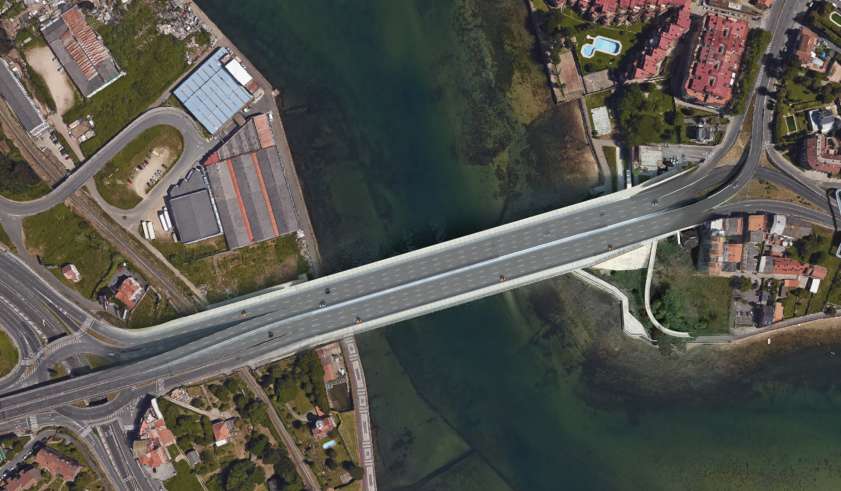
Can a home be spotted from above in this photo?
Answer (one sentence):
Yes, the frame does contain a home.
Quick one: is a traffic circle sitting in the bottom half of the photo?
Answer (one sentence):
Yes, looking in the bottom half of the photo, one can make out a traffic circle.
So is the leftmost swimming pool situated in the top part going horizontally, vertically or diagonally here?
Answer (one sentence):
The leftmost swimming pool situated in the top part is laid out horizontally.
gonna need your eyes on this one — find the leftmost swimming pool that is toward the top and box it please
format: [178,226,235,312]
[582,36,622,57]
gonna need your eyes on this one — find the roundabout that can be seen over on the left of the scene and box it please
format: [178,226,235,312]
[28,339,136,425]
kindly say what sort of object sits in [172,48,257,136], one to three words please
building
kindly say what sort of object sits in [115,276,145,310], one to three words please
house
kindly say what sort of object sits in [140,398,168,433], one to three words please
building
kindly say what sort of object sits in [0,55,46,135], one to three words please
shed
